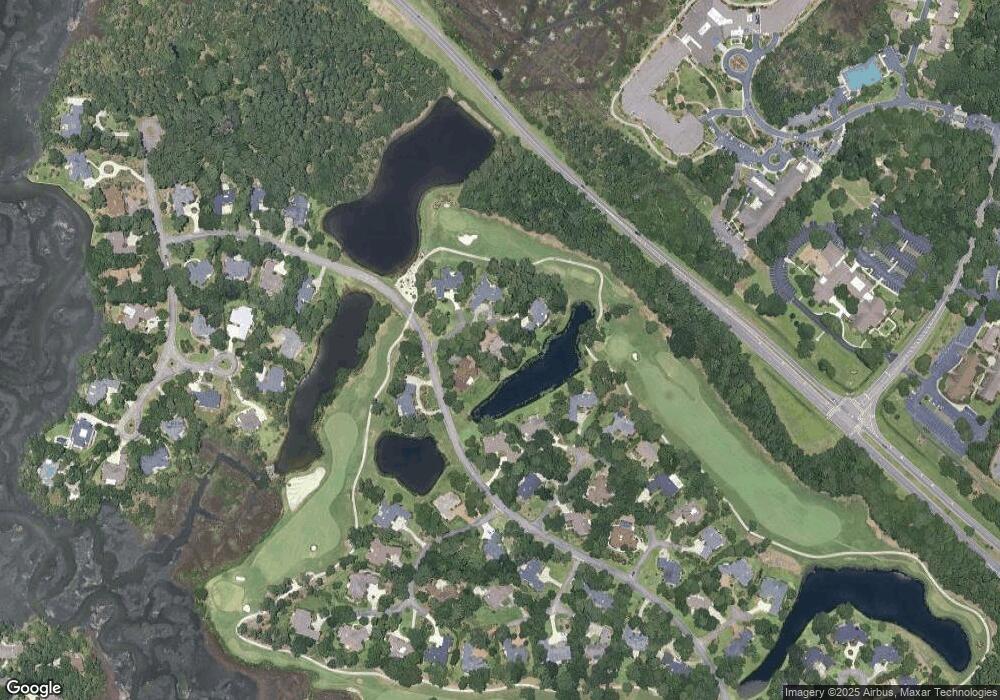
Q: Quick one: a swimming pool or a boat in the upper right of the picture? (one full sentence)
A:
It is a swimming pool that can be seen in the upper right of the picture.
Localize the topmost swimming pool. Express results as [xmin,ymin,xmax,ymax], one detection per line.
[840,55,886,95]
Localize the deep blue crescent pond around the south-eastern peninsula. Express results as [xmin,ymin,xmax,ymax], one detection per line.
[741,567,972,685]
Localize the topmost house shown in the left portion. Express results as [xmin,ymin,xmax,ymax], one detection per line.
[58,100,89,137]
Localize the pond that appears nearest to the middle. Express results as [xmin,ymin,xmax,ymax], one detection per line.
[473,303,594,419]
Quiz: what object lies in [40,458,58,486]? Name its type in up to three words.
swimming pool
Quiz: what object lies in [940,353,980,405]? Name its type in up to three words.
house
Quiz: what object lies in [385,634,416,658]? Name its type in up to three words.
house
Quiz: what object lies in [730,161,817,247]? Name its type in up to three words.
building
